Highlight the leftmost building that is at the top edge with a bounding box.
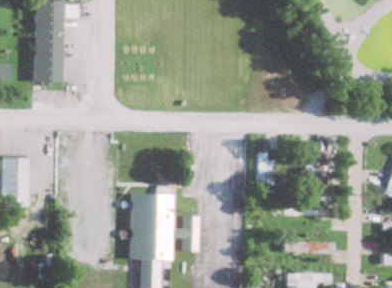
[32,0,64,82]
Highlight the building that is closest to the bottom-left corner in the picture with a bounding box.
[2,156,30,209]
